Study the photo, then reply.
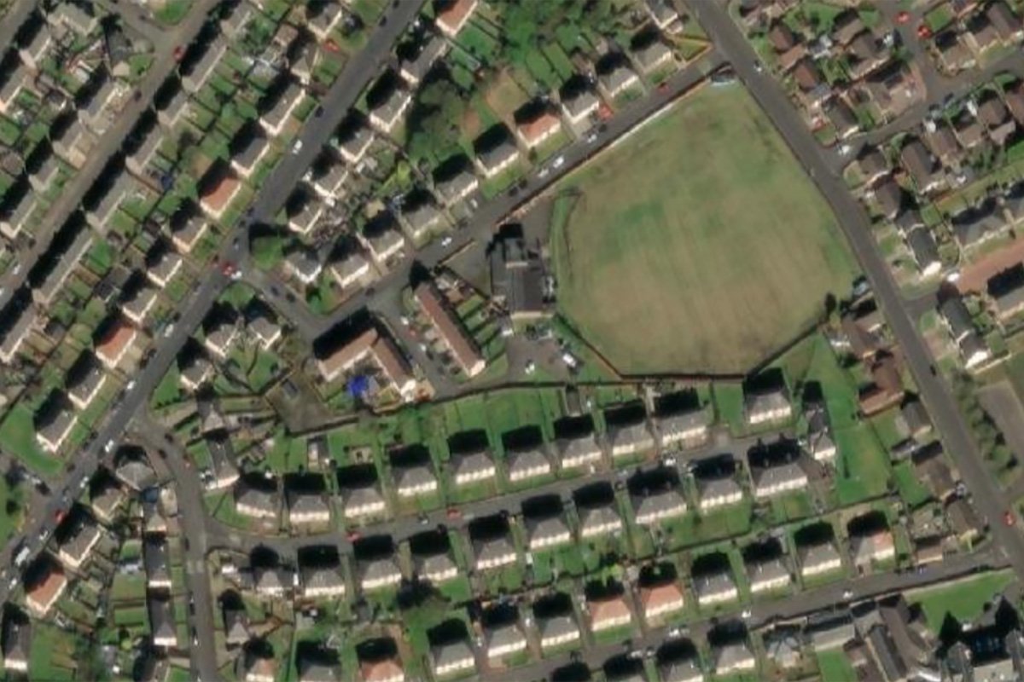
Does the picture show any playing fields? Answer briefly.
Yes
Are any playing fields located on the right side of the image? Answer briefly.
Yes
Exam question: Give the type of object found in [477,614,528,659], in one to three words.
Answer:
house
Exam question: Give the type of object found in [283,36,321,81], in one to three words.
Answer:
house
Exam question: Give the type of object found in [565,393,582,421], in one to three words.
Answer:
building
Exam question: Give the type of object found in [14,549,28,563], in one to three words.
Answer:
vehicle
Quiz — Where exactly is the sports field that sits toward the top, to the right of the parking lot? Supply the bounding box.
[567,85,856,375]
